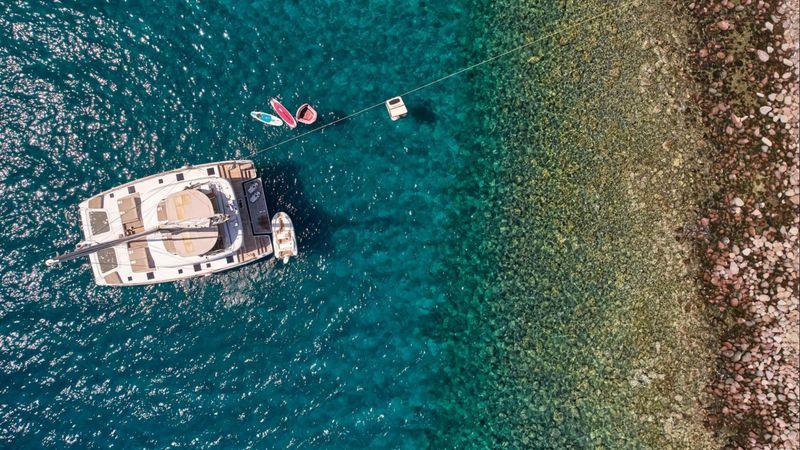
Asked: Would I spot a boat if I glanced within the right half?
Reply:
No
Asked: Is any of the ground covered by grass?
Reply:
No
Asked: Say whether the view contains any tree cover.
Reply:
No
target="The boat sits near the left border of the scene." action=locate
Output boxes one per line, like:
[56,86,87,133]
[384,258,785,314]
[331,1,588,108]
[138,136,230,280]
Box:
[25,163,276,284]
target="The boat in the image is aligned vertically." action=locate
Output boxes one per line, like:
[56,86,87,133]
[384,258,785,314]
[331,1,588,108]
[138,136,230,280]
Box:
[273,212,296,263]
